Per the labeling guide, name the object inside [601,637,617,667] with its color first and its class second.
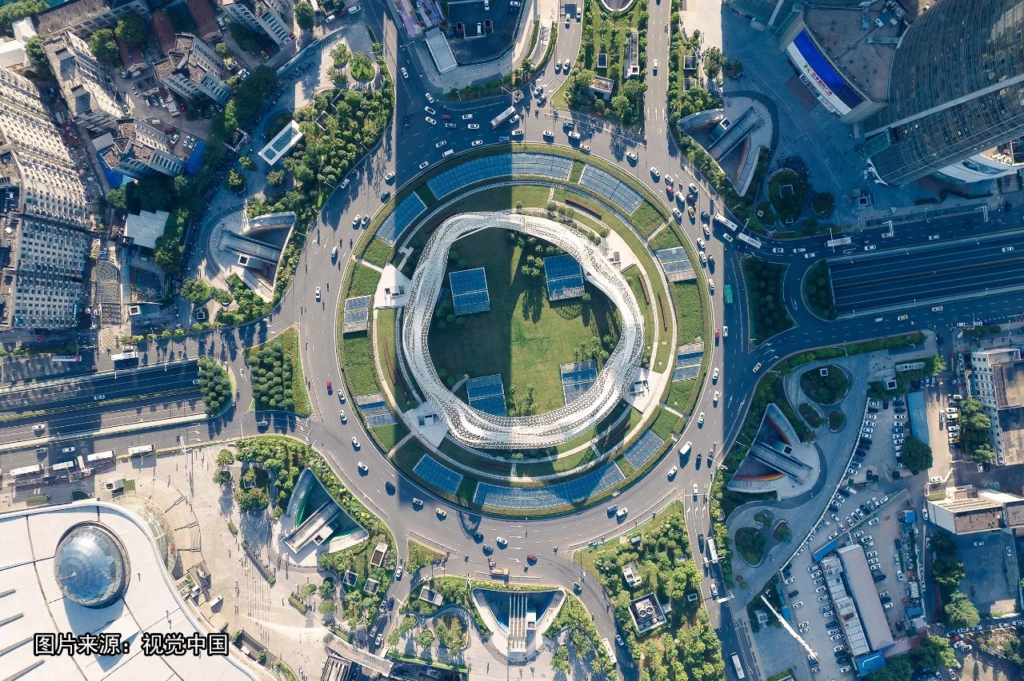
white vehicle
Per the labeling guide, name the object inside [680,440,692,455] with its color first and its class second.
white vehicle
